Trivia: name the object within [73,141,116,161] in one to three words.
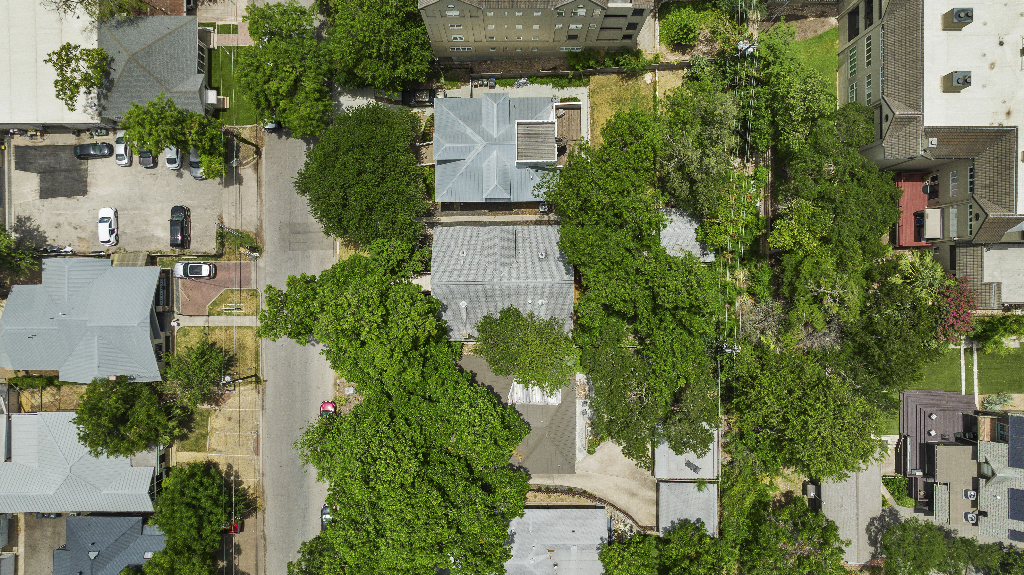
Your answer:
car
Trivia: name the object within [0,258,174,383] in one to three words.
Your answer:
house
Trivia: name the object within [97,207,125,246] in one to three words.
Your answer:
car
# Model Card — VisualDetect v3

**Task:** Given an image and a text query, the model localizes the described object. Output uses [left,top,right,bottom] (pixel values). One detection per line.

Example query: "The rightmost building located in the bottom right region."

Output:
[923,409,1024,541]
